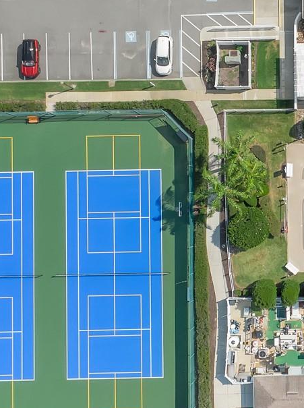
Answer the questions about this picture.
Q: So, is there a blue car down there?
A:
No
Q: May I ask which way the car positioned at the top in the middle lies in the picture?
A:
up and down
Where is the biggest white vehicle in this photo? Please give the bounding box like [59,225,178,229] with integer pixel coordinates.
[154,36,174,76]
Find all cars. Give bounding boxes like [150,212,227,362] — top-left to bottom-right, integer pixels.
[154,36,174,76]
[20,39,42,79]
